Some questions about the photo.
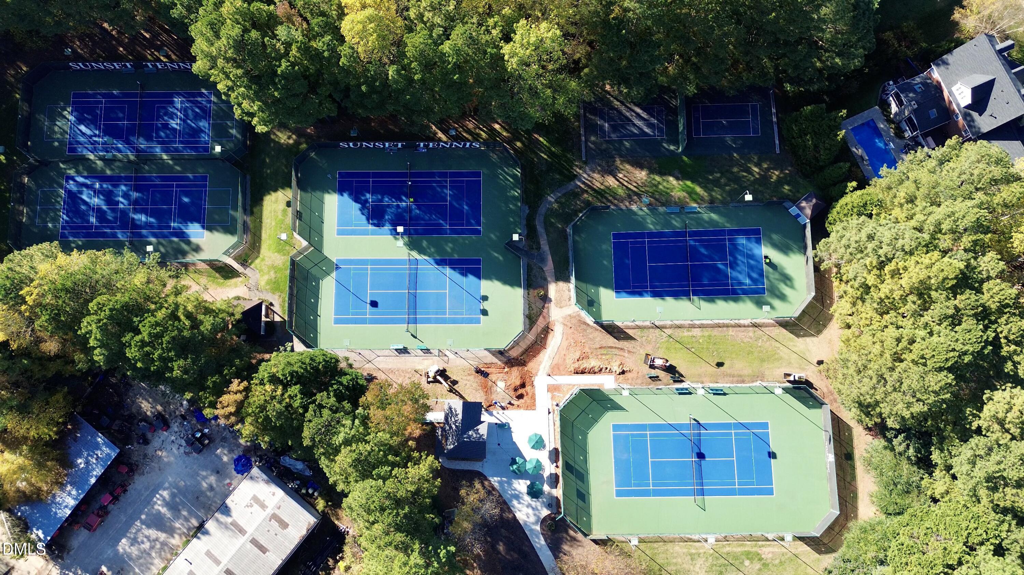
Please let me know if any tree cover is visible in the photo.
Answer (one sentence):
Yes, some tree cover is visible.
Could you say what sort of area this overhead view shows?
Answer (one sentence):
This looks like a sports ground.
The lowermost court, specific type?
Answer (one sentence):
In the photo, the lowermost court shows up as a tennis court.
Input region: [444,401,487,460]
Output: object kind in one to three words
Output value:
building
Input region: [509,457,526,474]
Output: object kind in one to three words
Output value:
umbrella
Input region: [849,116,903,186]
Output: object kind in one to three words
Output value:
swimming pool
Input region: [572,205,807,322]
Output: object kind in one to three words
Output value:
tennis court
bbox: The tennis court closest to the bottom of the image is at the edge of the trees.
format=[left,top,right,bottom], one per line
[560,387,830,537]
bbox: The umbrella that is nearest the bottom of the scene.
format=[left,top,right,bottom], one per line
[527,482,543,499]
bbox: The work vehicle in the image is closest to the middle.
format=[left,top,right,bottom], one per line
[471,364,493,382]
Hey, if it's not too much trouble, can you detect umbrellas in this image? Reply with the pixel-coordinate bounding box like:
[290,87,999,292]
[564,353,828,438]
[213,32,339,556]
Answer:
[509,457,526,474]
[528,433,545,450]
[527,482,543,499]
[526,457,543,475]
